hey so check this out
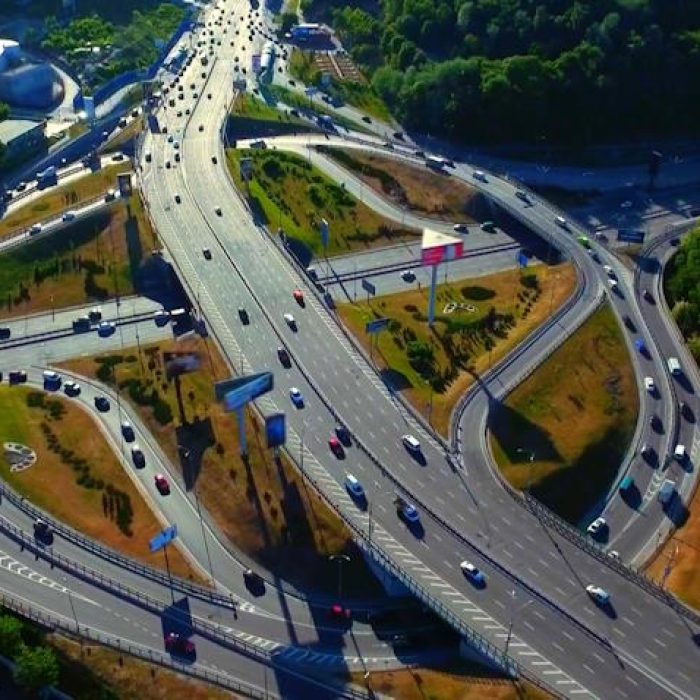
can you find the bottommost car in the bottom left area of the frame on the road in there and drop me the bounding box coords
[163,632,193,653]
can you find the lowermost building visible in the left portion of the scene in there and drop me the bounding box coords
[0,116,50,170]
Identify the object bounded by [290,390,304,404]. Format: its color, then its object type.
blue vehicle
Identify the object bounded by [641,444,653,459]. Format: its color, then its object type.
black vehicle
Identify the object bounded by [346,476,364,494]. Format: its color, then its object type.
blue car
